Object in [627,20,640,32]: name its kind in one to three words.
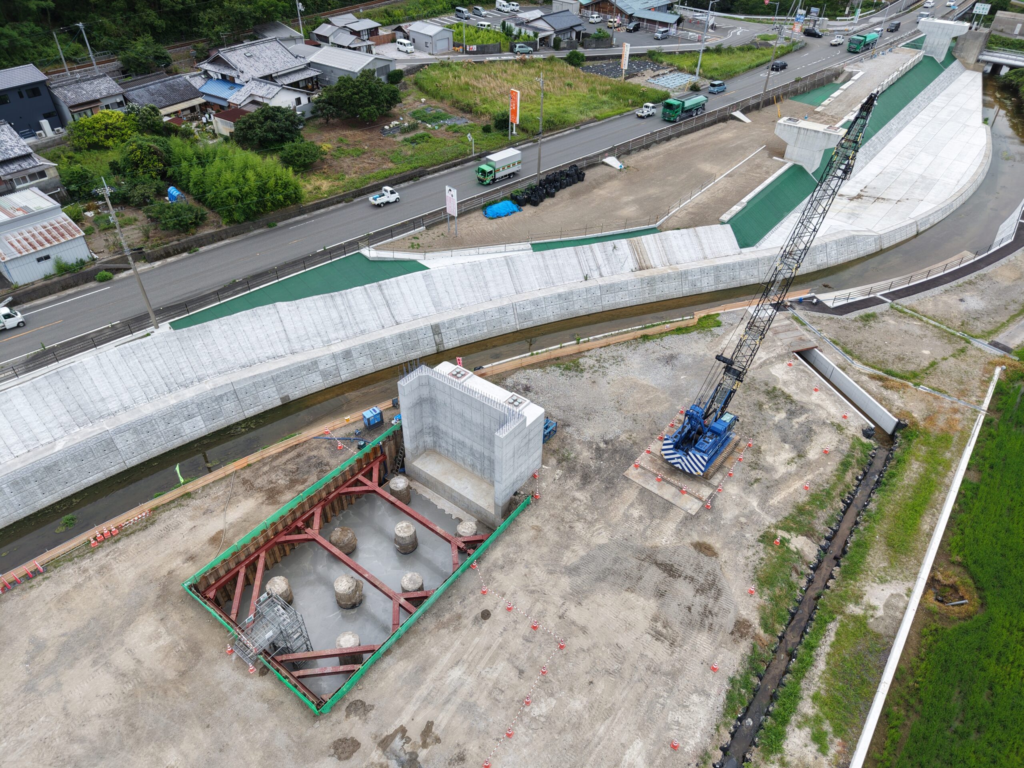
vehicle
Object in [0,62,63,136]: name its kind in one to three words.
house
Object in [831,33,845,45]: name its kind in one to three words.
vehicle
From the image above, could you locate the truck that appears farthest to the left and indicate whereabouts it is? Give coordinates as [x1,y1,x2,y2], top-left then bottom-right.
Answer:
[0,300,24,325]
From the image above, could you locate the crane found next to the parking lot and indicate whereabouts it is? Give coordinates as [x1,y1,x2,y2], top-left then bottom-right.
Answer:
[660,76,890,480]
